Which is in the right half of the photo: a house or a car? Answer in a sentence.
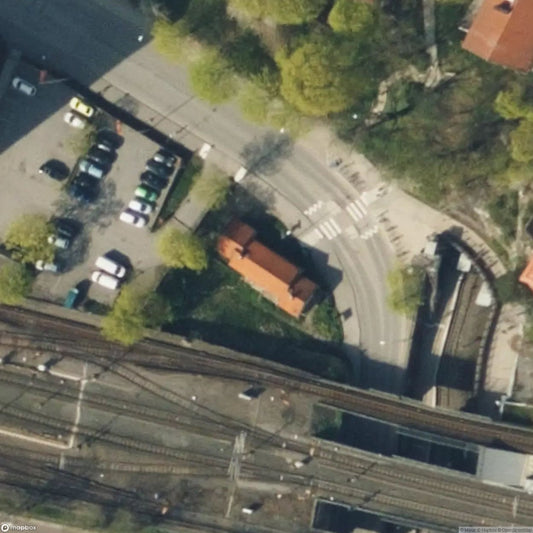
The feature located in the right half of the photo is a house.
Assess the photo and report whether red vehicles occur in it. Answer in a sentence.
No, there isn't any red vehicle down there.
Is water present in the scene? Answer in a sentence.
No, the scene doesn't show any water.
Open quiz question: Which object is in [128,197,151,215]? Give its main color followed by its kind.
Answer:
white car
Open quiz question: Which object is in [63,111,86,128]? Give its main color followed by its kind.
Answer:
white car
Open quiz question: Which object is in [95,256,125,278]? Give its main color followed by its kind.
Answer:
white vehicle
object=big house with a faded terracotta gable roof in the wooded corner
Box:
[461,0,533,75]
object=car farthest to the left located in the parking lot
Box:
[12,78,36,96]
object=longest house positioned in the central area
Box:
[214,215,319,316]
